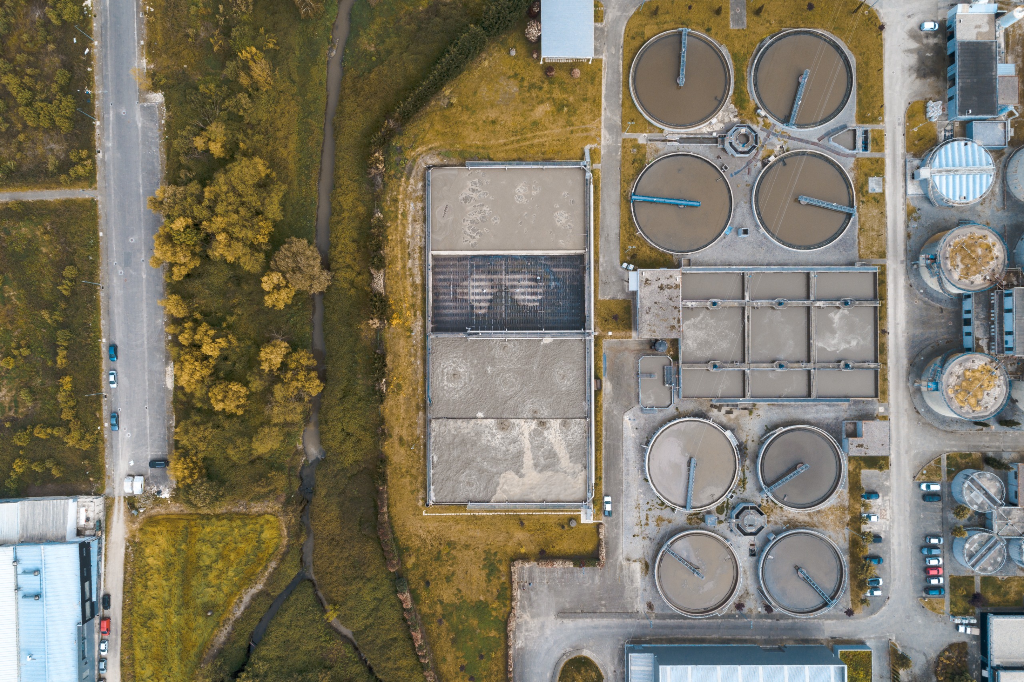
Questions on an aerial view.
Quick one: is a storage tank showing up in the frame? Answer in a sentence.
Yes, the photo shows a storage tank.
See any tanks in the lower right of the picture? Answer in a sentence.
Yes, a tank shows up in the lower right of the picture.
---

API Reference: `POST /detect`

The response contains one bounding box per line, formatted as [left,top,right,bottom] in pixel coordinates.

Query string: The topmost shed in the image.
[541,0,594,60]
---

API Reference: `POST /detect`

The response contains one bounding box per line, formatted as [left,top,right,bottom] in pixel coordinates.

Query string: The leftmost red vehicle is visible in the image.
[100,617,112,637]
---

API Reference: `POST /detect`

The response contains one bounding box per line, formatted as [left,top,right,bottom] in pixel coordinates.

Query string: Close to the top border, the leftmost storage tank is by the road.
[628,28,732,133]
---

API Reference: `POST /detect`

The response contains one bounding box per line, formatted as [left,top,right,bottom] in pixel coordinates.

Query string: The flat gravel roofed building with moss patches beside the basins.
[629,268,681,338]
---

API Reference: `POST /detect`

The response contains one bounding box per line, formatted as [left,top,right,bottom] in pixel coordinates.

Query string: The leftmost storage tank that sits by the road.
[426,160,594,510]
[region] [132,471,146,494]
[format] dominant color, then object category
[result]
white camper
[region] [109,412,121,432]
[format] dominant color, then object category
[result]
blue vehicle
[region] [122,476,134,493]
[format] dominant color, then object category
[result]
white vehicle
